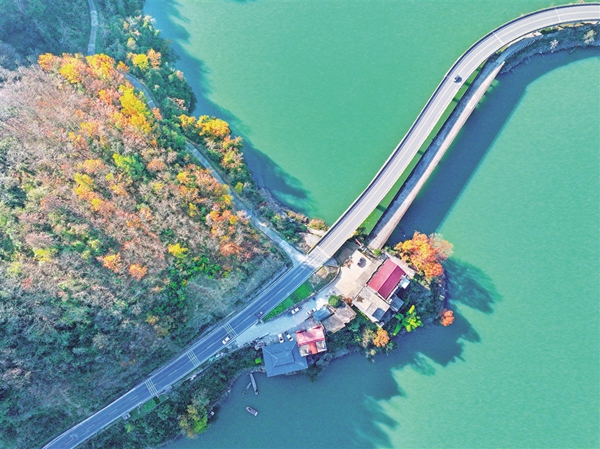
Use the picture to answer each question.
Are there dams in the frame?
No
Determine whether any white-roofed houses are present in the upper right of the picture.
No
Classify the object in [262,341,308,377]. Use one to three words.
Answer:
house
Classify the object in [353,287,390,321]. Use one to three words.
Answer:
house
